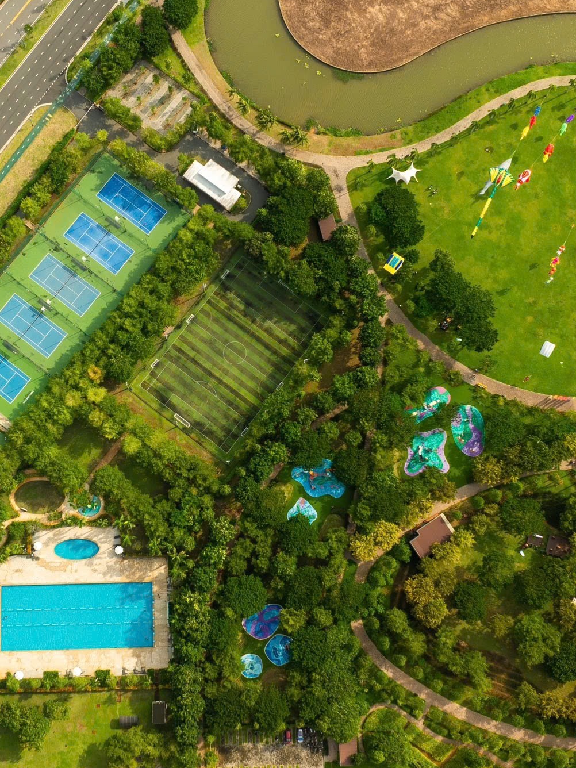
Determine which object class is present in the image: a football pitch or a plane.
football pitch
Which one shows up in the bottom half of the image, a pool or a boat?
pool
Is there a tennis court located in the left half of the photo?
Yes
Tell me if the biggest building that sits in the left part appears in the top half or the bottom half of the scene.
top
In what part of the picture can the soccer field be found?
center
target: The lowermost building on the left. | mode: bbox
[152,699,167,724]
